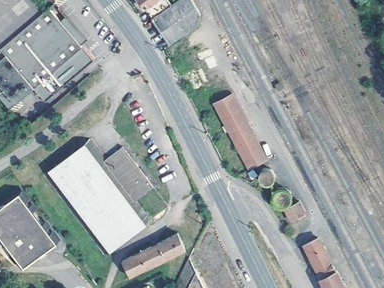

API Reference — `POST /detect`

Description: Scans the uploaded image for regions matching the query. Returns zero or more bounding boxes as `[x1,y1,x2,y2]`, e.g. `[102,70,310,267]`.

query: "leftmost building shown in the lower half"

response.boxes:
[0,189,62,270]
